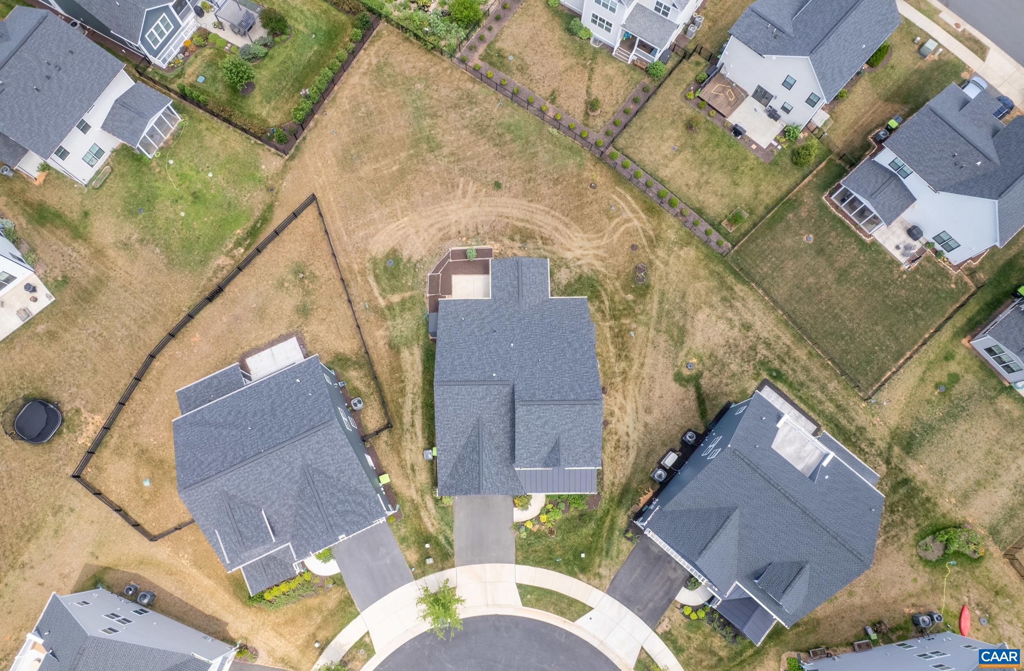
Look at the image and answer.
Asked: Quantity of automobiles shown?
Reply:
2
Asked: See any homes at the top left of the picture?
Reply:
Yes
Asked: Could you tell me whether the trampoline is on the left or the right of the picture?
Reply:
left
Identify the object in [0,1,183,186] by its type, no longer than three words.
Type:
house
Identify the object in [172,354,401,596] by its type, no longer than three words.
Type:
house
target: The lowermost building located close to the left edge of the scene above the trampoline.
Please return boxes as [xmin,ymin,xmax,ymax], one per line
[0,224,36,295]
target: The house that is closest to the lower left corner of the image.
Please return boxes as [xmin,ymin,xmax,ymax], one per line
[14,576,244,671]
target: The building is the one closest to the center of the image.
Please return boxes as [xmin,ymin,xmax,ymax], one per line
[428,255,604,498]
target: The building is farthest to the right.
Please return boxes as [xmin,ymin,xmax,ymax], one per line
[969,295,1024,385]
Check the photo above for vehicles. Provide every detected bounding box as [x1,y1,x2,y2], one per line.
[993,88,1019,124]
[961,70,989,97]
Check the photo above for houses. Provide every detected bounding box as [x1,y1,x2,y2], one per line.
[428,255,604,498]
[831,80,1024,267]
[716,0,906,135]
[172,354,401,596]
[798,631,1024,671]
[561,0,704,68]
[14,576,244,671]
[0,224,36,295]
[0,1,183,186]
[969,295,1024,385]
[633,389,885,648]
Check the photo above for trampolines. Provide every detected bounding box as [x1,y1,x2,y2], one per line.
[0,393,76,447]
